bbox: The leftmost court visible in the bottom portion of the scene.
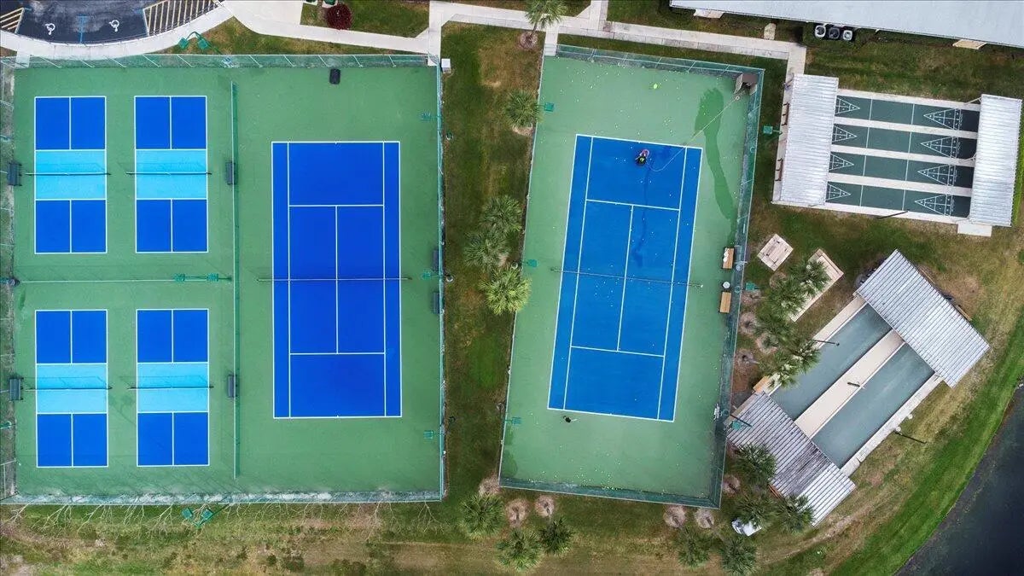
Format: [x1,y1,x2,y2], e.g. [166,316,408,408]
[35,310,108,467]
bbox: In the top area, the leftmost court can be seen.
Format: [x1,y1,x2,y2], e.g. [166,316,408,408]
[34,96,107,253]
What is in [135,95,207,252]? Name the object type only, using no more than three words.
sports court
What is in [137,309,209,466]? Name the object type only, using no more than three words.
sports court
